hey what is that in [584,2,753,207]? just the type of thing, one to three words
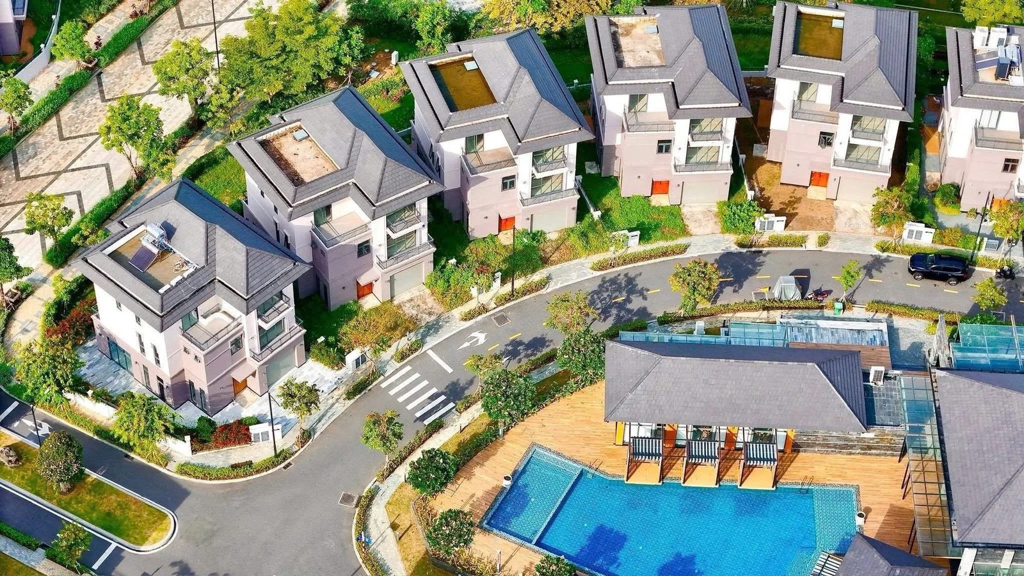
house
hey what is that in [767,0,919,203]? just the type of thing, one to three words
house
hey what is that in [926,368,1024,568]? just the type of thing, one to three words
building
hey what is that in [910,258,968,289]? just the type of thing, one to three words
car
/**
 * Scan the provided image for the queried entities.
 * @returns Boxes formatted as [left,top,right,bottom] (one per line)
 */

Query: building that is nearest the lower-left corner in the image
[71,175,312,417]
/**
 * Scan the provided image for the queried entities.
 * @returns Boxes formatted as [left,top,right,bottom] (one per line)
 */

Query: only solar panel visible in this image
[973,48,1004,73]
